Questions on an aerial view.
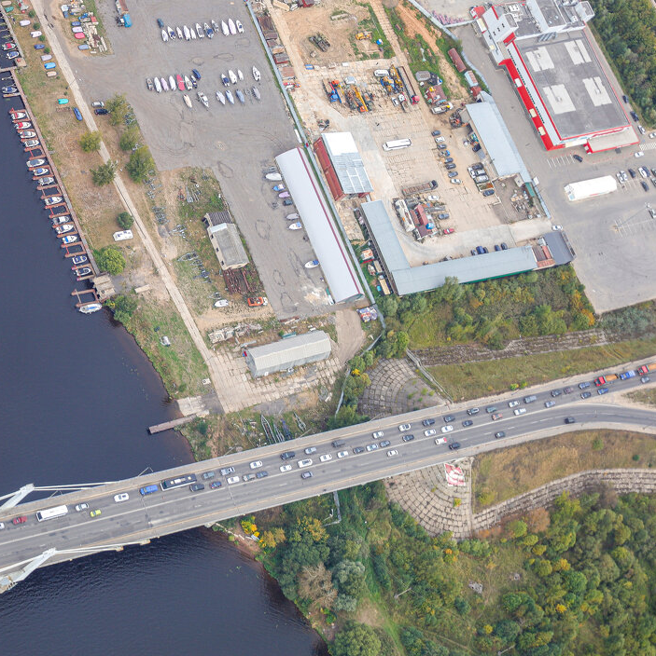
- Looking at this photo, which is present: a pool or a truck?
truck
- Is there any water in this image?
Yes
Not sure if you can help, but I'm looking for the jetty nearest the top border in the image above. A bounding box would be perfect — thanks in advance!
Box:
[0,3,25,59]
